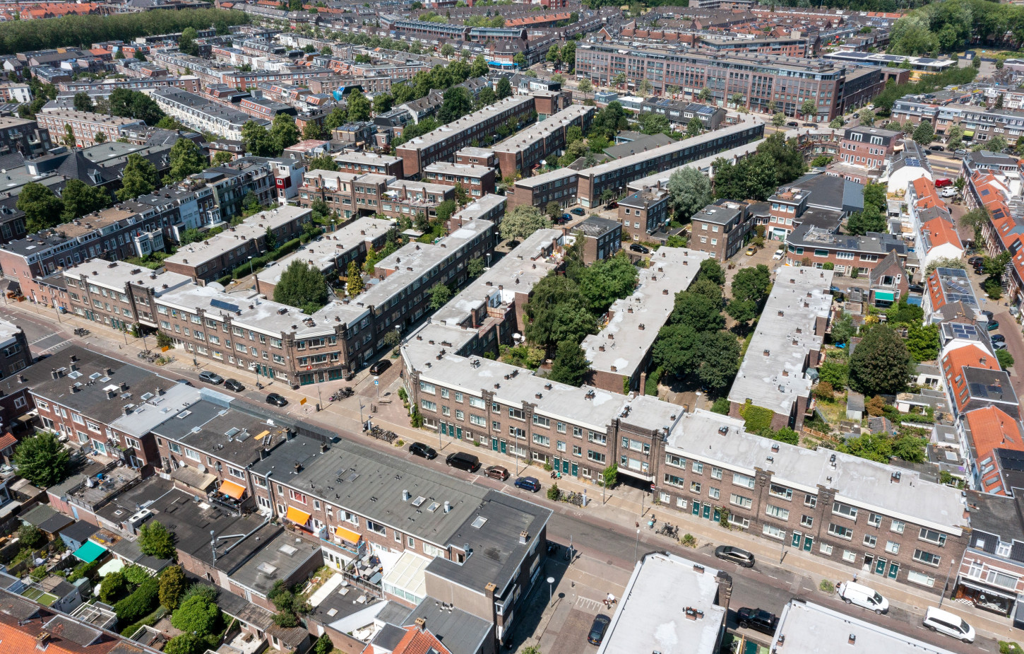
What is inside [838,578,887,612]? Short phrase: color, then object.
white van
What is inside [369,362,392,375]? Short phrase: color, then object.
black vehicle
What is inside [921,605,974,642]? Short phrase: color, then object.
white van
